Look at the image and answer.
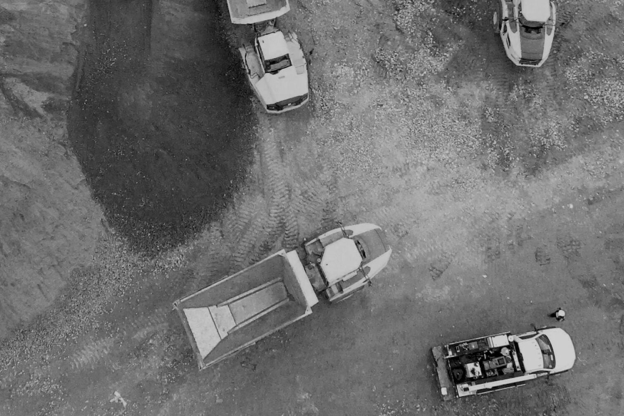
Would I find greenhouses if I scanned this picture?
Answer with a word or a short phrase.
No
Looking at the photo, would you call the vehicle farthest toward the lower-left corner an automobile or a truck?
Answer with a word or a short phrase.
truck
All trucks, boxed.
[429,327,577,399]
[169,220,392,377]
[494,0,565,67]
[226,0,307,119]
